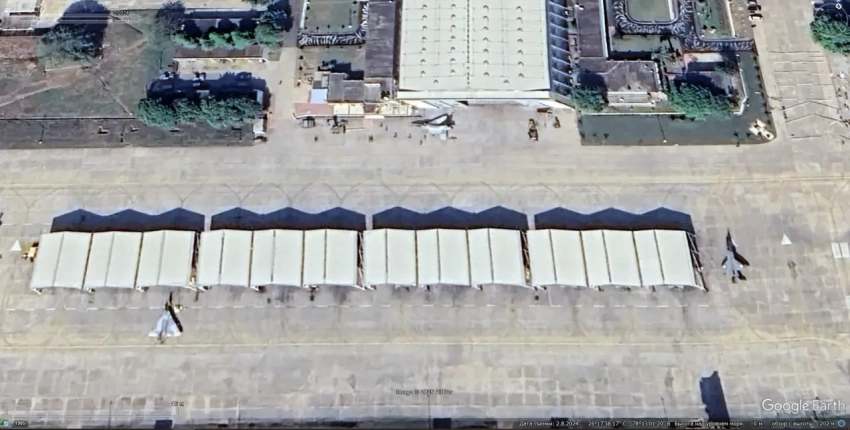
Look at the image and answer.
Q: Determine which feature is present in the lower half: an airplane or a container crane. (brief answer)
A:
airplane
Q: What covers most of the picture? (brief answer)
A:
paved ground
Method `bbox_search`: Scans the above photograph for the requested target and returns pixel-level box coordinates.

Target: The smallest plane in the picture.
[751,117,779,138]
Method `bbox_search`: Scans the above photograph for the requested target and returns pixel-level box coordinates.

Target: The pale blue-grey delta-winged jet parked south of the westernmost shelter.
[147,292,181,343]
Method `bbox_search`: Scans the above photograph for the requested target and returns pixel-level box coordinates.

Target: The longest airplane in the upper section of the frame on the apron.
[408,110,457,136]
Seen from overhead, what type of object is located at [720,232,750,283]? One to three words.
airplane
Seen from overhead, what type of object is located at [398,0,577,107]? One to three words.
hangar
